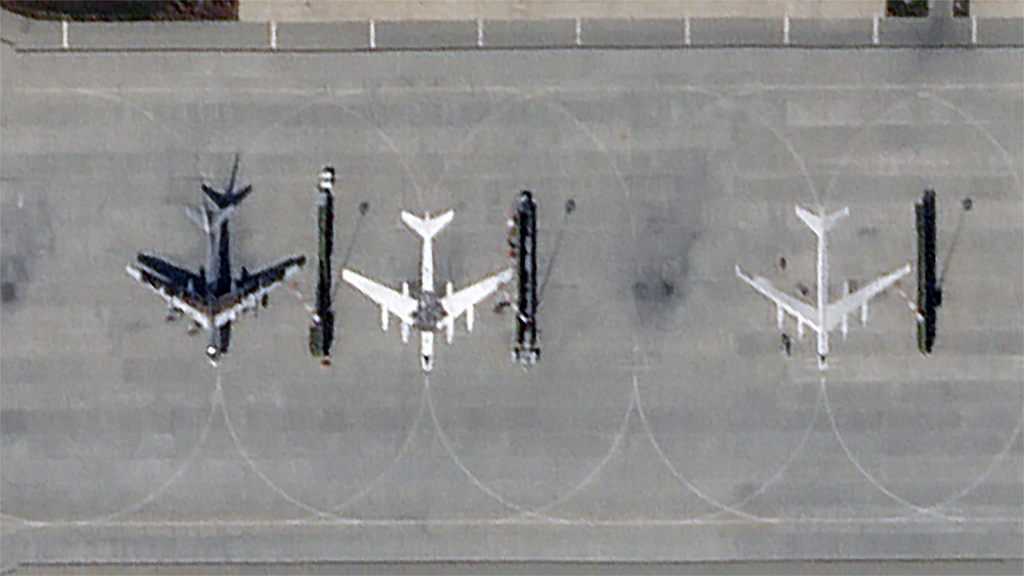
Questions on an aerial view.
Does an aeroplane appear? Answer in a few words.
Yes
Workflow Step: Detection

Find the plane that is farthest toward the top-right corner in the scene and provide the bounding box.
[736,205,910,368]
